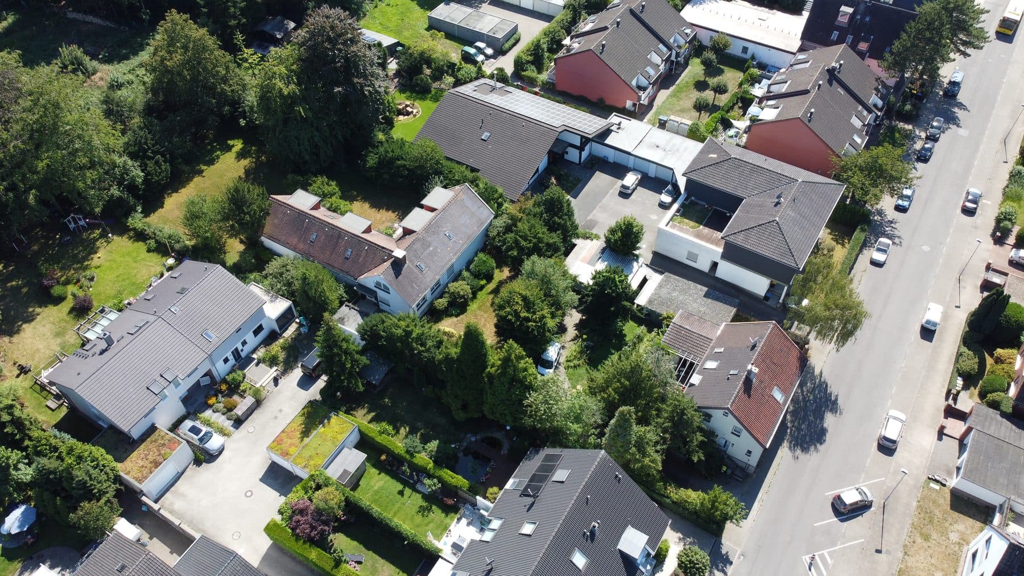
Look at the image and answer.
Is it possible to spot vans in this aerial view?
Yes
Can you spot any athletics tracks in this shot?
No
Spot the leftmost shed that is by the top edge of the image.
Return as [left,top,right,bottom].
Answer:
[246,15,301,51]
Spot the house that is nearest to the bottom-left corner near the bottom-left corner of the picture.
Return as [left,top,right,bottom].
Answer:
[70,529,173,576]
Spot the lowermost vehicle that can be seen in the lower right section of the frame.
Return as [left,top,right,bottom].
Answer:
[832,484,878,513]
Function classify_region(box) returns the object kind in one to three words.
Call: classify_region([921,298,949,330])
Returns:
van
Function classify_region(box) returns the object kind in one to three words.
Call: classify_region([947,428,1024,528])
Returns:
building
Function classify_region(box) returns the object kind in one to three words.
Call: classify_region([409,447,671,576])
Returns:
house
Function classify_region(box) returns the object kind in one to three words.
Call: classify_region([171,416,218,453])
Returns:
car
